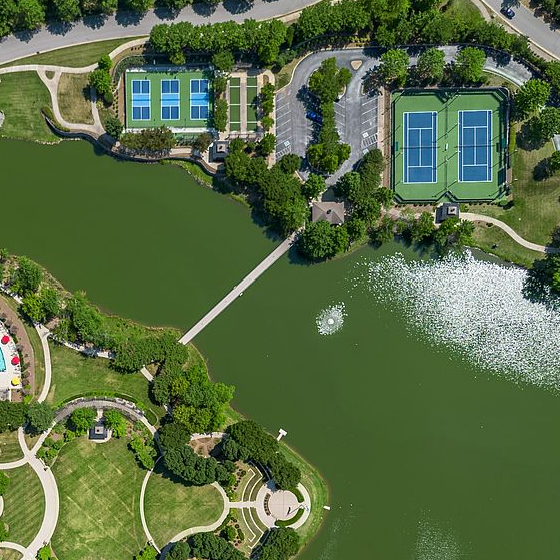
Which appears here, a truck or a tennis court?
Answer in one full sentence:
It is a tennis court that can be seen here.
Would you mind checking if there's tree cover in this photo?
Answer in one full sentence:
Yes, the picture does contain tree cover.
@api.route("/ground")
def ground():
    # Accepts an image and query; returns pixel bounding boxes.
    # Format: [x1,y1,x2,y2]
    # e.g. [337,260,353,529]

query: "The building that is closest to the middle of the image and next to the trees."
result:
[309,202,344,228]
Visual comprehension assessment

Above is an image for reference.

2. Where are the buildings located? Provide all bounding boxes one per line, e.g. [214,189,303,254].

[431,203,461,227]
[309,202,344,228]
[89,419,109,439]
[208,140,230,166]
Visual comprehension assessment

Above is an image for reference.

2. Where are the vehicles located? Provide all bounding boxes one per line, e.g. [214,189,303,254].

[307,111,322,122]
[501,6,514,19]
